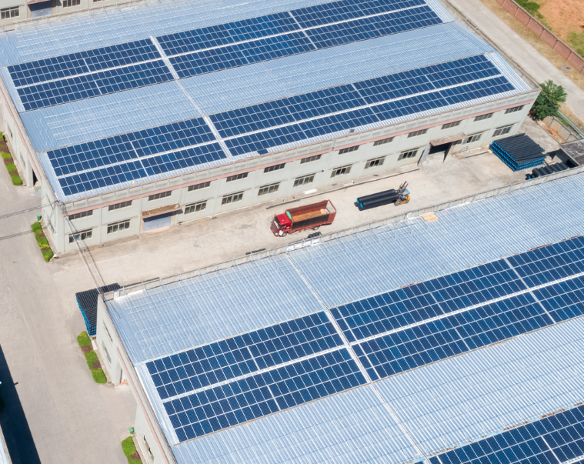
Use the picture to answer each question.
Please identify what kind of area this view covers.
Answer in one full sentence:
The picture captures an industrial area.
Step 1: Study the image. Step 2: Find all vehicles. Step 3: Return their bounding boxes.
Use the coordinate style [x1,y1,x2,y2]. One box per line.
[269,201,337,235]
[393,183,412,206]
